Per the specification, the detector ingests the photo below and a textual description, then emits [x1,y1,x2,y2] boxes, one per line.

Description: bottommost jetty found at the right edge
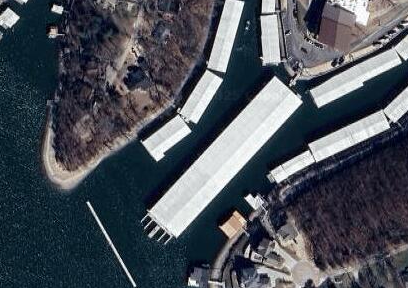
[309,110,389,161]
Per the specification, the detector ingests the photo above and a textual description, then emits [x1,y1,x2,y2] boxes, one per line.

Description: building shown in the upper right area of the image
[317,0,370,49]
